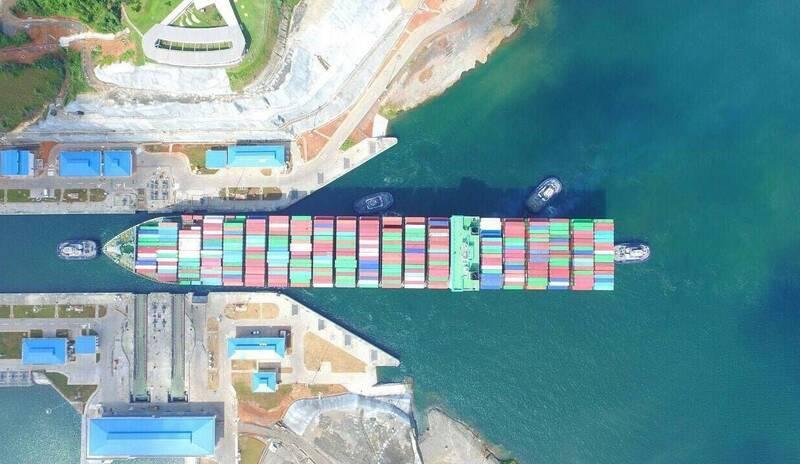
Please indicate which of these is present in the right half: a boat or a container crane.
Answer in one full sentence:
The one visible in the right half is a boat.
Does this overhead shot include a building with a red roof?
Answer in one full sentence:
No, there appears to be no building with a red roof in this shot.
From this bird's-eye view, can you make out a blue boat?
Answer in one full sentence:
Yes, looking at the shot, I can spot a blue boat.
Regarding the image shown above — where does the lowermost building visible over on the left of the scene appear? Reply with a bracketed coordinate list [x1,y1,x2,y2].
[88,414,219,457]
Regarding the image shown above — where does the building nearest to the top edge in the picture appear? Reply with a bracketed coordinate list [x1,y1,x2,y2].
[141,0,248,71]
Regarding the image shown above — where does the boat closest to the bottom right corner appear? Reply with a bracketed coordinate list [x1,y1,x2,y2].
[614,243,651,262]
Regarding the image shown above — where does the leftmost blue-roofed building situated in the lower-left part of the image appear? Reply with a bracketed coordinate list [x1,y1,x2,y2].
[22,338,70,365]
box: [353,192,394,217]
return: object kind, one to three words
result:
boat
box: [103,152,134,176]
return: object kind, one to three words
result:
building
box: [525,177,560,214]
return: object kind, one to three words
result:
boat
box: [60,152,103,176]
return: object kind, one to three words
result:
building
